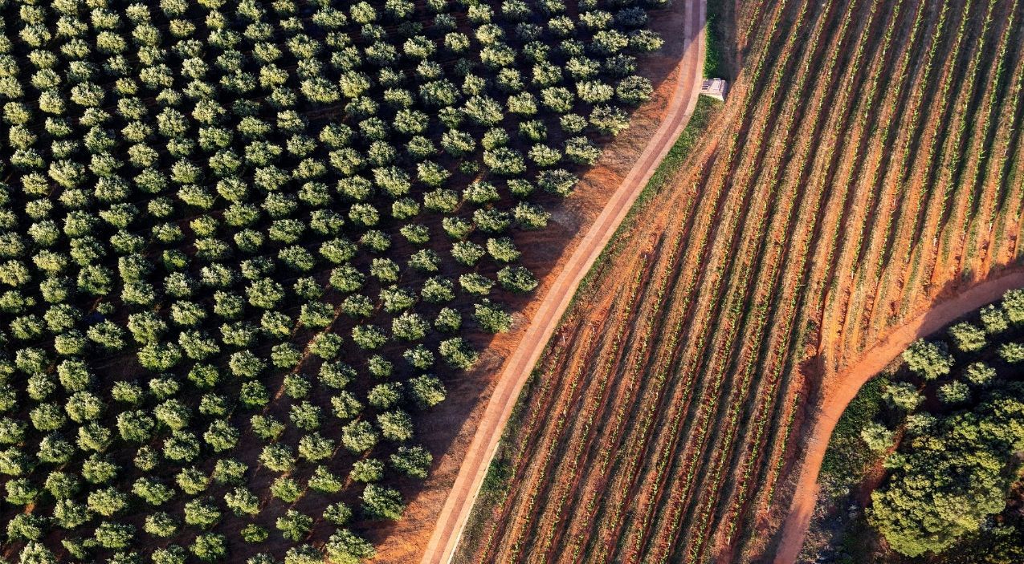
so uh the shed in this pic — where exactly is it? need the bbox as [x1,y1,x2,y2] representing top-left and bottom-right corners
[702,77,728,101]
